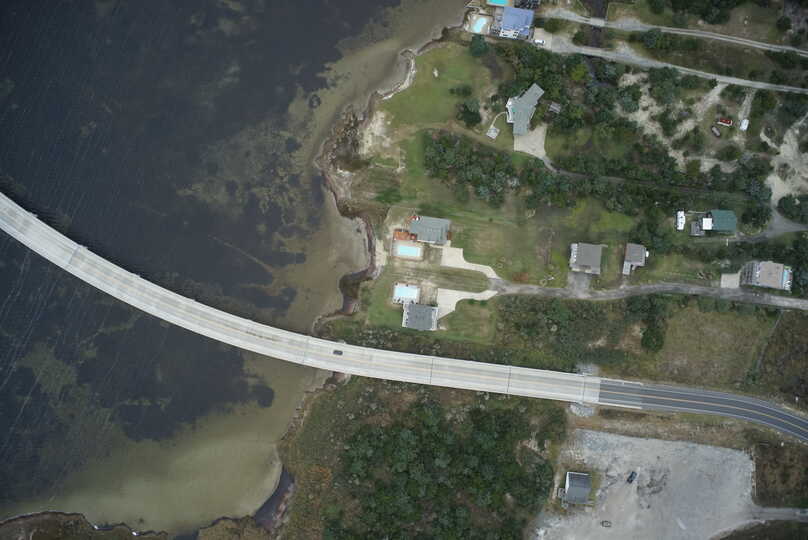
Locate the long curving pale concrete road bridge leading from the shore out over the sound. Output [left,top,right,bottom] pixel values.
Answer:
[0,189,597,403]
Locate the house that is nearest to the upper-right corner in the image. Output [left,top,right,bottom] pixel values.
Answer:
[690,210,737,235]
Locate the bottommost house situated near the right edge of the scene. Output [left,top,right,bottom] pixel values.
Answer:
[739,262,784,288]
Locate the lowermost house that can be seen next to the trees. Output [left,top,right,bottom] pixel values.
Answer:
[558,471,594,509]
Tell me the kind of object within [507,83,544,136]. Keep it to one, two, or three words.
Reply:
house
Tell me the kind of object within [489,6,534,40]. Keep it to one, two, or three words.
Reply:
house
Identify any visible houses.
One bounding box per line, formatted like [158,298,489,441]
[690,210,737,235]
[402,298,438,331]
[739,262,784,288]
[489,6,534,40]
[558,471,594,509]
[507,83,544,136]
[569,243,608,273]
[622,243,646,275]
[394,216,452,243]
